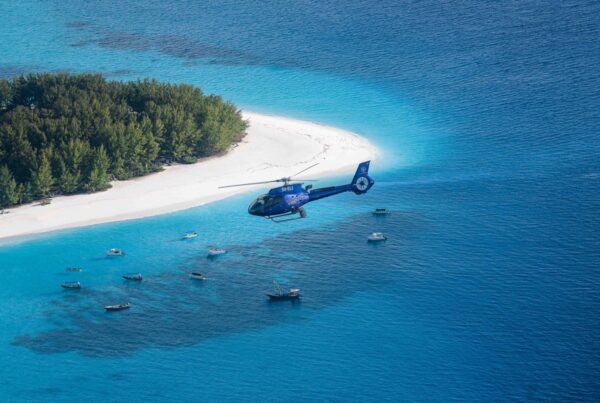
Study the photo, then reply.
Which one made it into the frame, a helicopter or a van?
helicopter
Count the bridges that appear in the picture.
0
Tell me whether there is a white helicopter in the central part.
No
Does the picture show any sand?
Yes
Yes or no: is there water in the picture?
Yes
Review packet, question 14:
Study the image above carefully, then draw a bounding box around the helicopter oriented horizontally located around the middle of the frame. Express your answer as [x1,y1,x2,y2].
[219,160,374,223]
